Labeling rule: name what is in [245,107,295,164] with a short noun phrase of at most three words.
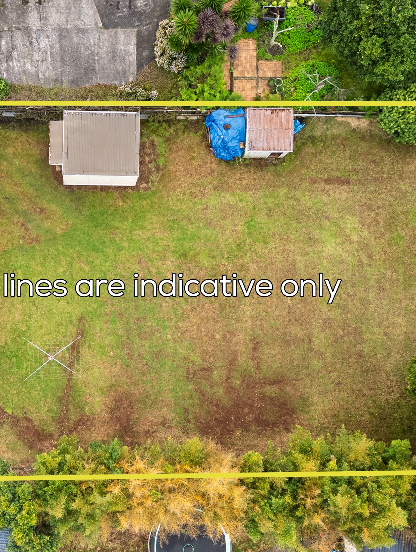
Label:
shed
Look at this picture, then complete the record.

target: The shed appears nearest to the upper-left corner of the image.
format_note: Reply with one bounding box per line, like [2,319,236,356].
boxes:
[49,109,141,186]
